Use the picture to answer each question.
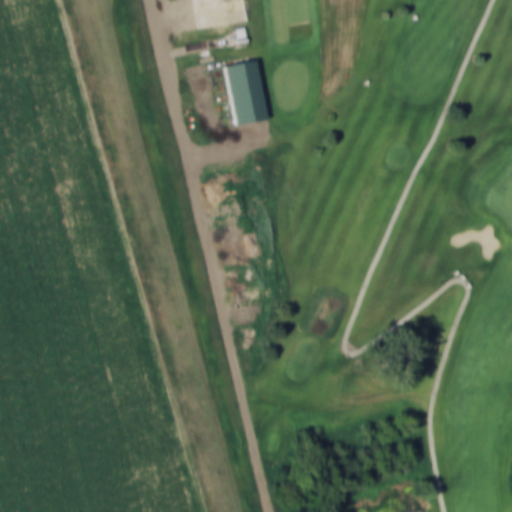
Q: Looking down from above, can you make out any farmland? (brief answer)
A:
Yes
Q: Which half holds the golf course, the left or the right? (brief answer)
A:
right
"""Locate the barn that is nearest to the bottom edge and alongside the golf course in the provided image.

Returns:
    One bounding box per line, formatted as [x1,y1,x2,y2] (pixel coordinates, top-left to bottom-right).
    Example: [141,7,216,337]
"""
[224,61,269,125]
